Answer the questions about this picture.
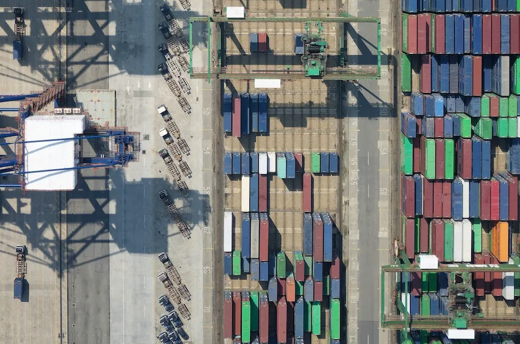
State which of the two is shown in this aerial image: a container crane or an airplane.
container crane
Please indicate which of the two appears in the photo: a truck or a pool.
truck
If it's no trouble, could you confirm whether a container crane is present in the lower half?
Yes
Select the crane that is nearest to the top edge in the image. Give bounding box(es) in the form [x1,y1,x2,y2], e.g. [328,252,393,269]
[189,0,381,91]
